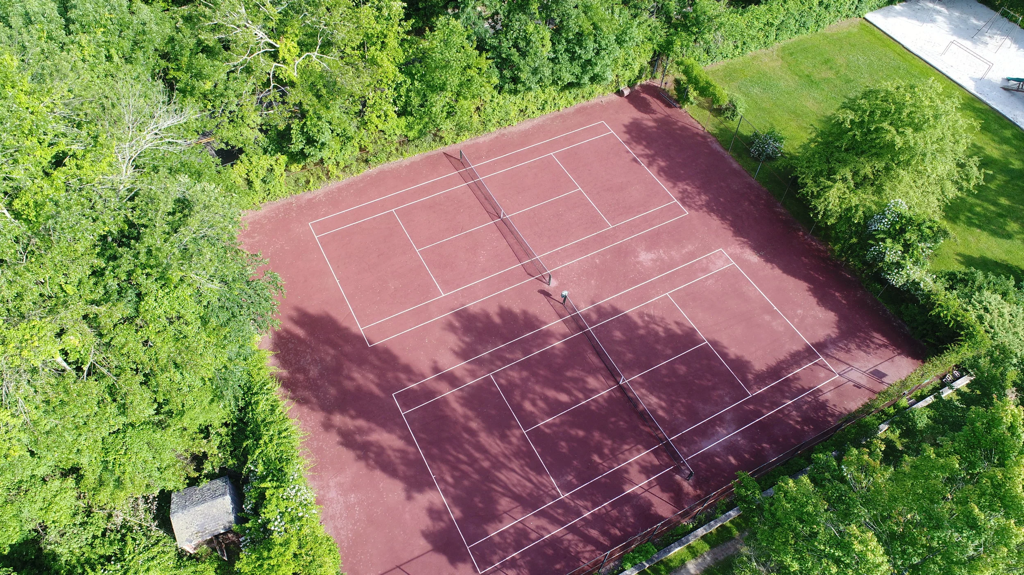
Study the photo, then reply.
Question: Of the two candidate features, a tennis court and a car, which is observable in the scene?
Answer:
tennis court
